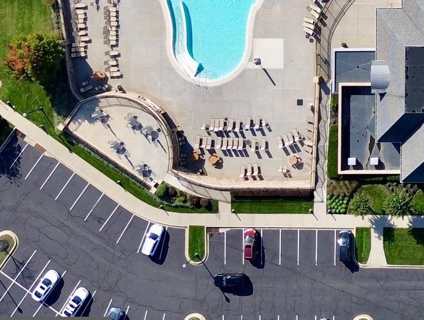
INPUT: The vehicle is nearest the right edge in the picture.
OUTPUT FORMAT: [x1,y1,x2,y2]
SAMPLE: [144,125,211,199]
[337,229,352,263]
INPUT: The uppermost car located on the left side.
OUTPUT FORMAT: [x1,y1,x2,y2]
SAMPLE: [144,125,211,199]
[140,222,164,256]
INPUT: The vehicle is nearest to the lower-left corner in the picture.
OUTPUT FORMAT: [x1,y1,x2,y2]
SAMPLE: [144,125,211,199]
[33,269,61,302]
